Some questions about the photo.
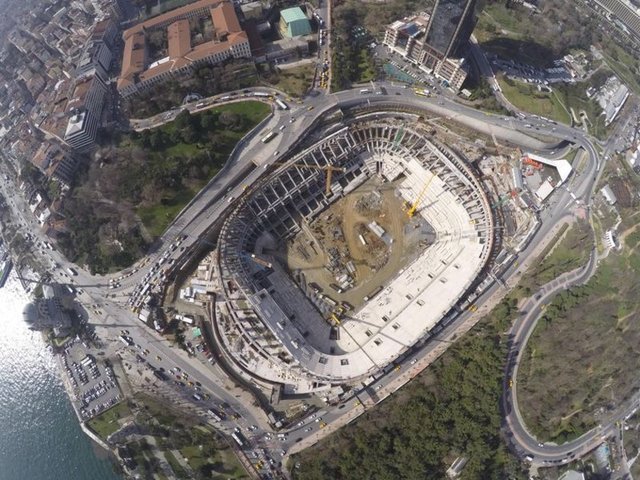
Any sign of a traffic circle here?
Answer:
No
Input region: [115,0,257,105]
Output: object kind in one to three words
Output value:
building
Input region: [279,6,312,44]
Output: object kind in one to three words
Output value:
building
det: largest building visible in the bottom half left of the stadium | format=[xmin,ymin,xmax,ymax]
[21,277,84,343]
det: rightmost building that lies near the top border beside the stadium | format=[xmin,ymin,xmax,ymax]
[384,0,488,88]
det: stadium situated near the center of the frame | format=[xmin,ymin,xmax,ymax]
[211,120,506,406]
